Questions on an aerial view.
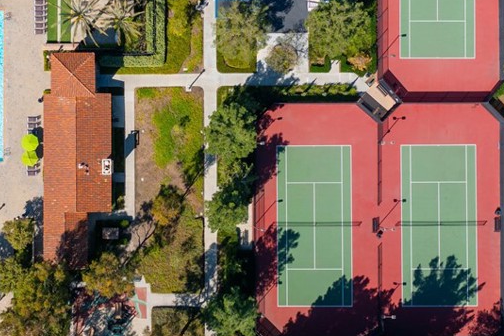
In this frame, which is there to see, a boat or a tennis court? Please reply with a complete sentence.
Visible in the photo is a tennis court.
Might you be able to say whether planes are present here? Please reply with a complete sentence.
No, there's no plane here.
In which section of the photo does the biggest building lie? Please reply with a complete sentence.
The biggest building sits in the left section of the image.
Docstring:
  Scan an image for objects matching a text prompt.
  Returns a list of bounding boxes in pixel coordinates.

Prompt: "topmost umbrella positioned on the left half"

[22,134,38,150]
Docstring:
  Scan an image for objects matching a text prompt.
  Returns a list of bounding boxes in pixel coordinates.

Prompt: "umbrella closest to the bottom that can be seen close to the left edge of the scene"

[22,151,39,166]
